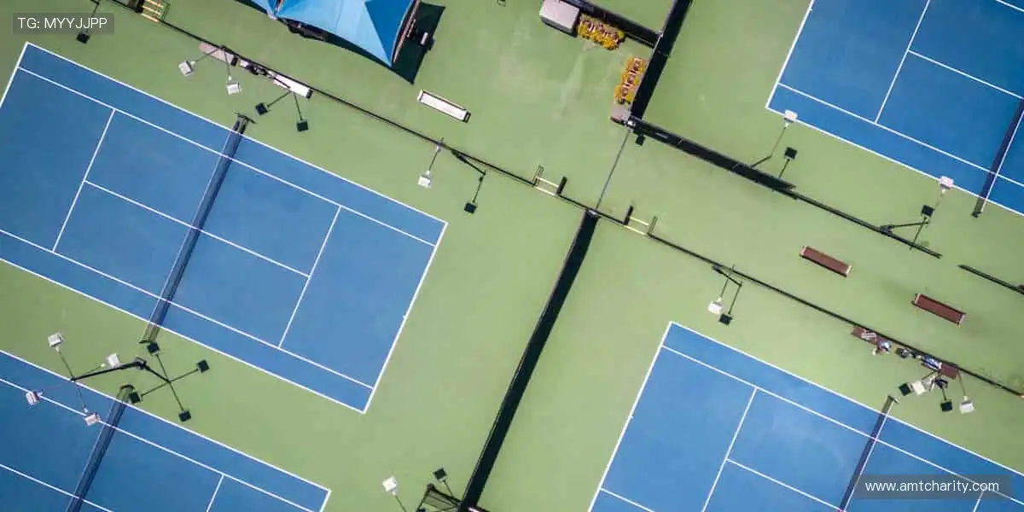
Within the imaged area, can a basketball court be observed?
No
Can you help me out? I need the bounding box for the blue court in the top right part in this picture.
[767,0,1024,215]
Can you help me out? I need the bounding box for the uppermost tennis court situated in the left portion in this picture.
[0,44,447,414]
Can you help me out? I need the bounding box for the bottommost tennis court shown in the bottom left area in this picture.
[0,349,330,512]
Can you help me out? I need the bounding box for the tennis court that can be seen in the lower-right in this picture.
[589,323,1024,512]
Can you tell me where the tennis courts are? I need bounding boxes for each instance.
[0,44,447,414]
[767,0,1024,215]
[589,323,1024,512]
[0,349,330,512]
